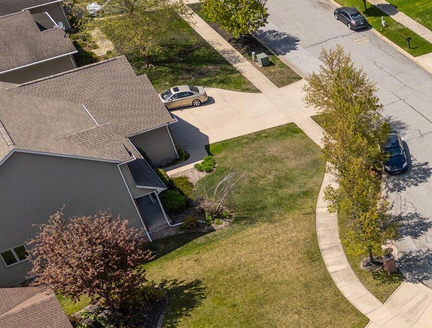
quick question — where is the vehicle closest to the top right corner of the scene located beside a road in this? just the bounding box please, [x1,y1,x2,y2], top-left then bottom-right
[333,3,368,26]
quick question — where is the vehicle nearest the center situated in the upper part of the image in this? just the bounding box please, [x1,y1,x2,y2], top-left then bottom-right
[162,86,207,112]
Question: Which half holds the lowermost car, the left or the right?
right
